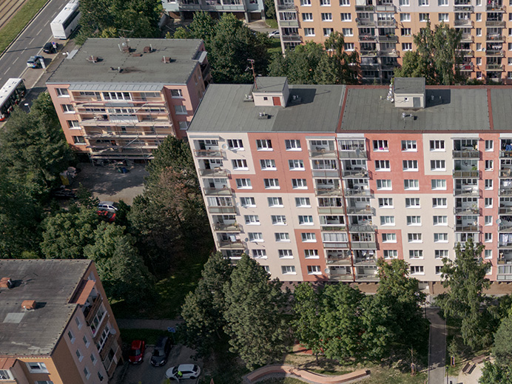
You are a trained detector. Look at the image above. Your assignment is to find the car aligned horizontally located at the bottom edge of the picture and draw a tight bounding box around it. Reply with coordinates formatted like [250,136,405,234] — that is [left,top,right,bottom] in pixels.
[161,363,201,382]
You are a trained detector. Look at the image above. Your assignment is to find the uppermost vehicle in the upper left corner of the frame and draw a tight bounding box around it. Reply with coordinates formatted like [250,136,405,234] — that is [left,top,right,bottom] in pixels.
[54,5,82,35]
